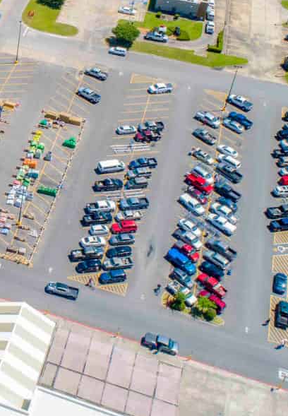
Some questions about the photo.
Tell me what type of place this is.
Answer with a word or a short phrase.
parking lot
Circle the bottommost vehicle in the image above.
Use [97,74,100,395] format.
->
[143,334,182,355]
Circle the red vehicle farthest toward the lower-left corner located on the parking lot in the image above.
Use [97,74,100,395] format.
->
[110,220,138,235]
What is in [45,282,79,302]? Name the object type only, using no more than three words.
vehicle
